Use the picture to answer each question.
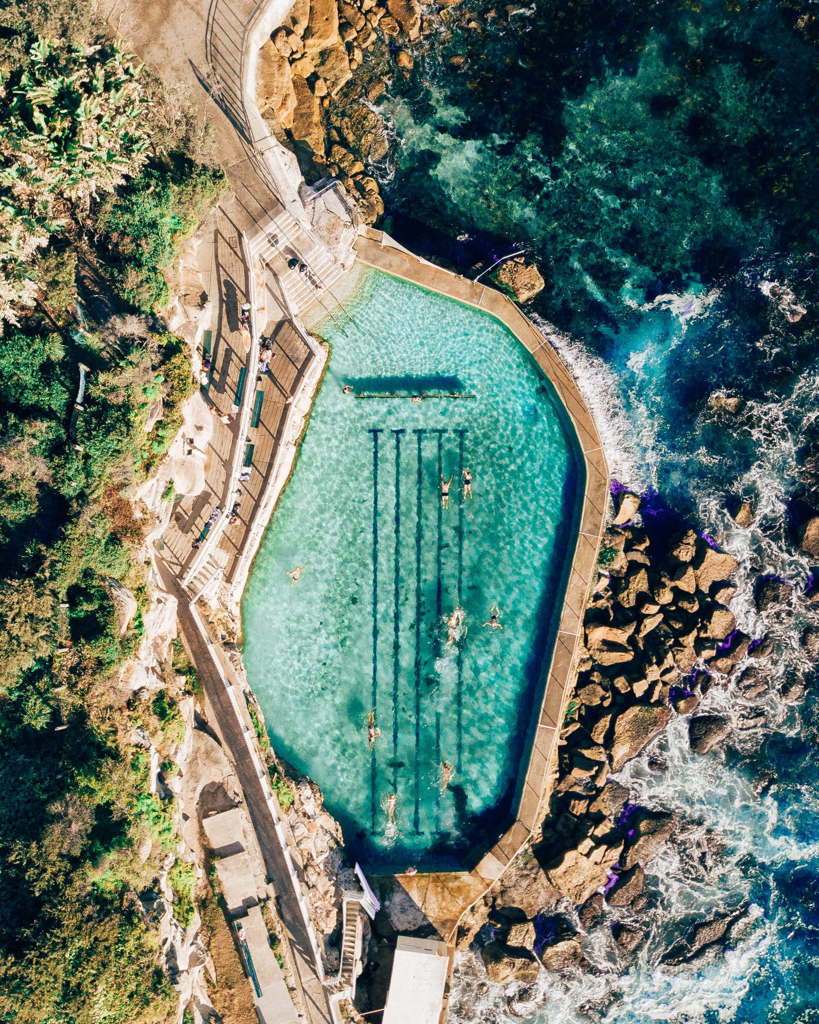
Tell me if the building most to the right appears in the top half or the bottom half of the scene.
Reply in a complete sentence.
The building most to the right sits in the bottom half of the picture.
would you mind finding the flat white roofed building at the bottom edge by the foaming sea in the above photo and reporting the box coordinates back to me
[382,926,449,1024]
